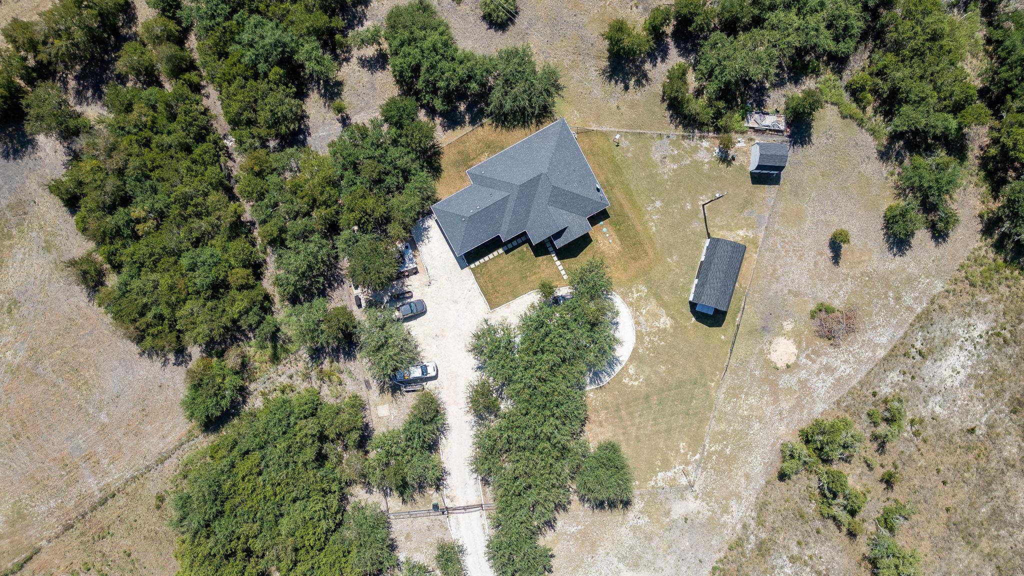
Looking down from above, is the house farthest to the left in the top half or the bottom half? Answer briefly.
top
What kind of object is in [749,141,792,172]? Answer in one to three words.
shed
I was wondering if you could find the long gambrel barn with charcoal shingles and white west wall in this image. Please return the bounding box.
[689,237,747,312]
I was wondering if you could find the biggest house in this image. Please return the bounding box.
[430,117,611,257]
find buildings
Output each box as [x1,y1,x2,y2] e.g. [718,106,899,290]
[749,141,792,172]
[430,117,611,257]
[689,237,747,312]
